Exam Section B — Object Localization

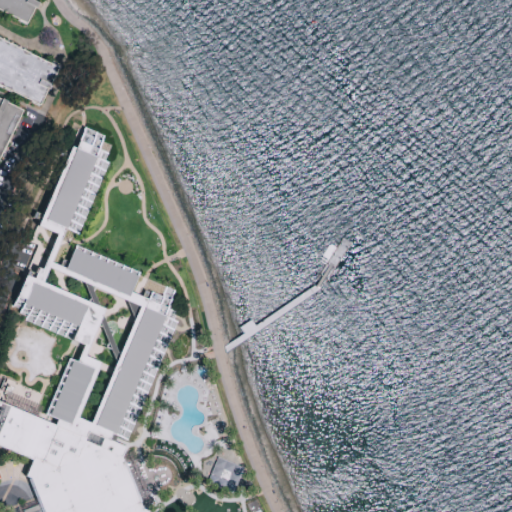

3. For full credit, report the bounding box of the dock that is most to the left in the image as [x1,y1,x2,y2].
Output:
[224,284,322,352]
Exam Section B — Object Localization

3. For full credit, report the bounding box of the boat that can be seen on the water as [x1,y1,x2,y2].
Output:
[322,243,336,262]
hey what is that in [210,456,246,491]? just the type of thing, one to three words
building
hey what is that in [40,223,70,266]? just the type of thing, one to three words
building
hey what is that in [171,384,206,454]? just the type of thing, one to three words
swimming pool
